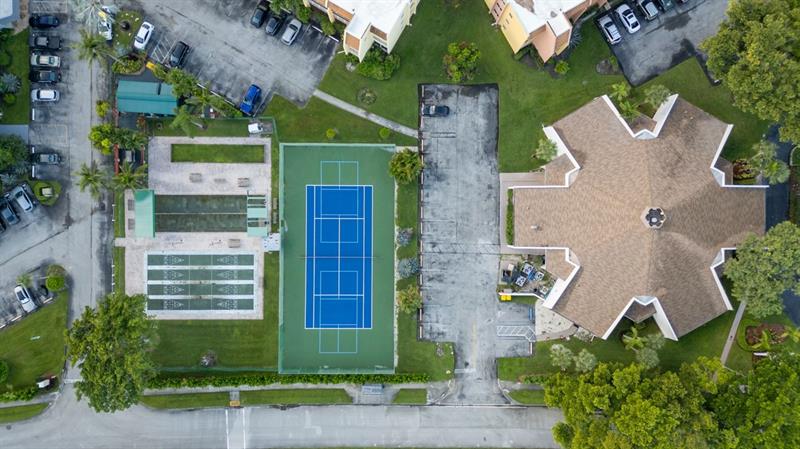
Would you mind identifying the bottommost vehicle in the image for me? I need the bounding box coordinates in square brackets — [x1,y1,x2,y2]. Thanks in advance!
[16,287,38,312]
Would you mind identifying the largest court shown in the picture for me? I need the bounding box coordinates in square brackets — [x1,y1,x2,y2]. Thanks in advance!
[284,146,395,370]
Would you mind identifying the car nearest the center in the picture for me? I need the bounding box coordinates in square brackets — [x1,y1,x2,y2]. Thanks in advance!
[422,104,451,117]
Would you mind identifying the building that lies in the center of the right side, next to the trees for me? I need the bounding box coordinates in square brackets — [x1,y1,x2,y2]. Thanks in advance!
[507,89,770,347]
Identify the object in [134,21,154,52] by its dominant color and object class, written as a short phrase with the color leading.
white car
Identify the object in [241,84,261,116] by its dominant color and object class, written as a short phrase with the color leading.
blue vehicle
